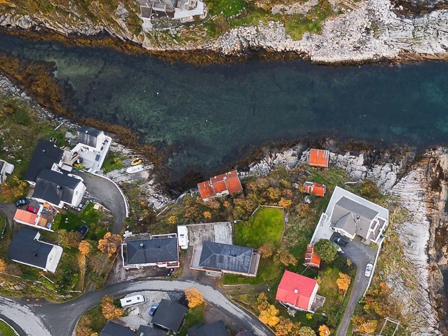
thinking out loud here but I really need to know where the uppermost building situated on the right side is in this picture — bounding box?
[309,148,330,169]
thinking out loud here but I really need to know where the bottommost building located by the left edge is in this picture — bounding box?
[9,229,67,268]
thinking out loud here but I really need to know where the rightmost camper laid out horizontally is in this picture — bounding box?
[116,293,148,307]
